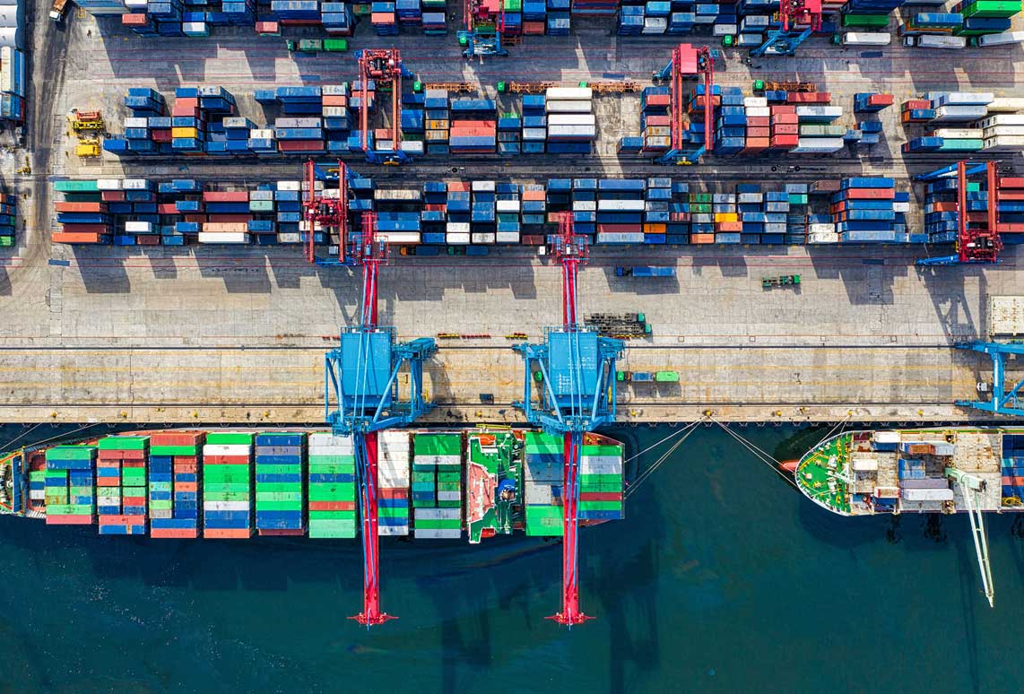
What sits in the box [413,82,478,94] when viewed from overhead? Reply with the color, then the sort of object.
green vehicle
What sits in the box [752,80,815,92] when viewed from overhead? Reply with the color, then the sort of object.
green vehicle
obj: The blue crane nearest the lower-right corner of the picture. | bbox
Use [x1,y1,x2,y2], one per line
[954,342,1024,417]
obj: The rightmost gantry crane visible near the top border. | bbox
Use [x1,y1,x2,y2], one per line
[753,0,823,60]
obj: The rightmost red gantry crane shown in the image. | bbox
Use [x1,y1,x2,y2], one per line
[915,161,1002,270]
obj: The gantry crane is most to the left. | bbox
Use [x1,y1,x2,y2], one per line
[303,161,365,270]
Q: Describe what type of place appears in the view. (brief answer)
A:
port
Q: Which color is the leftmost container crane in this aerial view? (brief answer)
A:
red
